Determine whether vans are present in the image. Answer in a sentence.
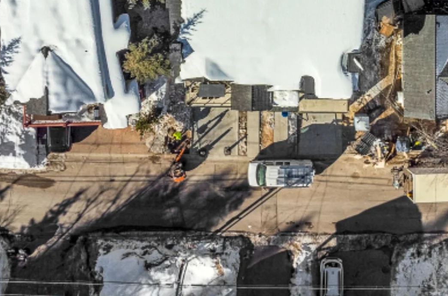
Yes, I can see a van in this picture.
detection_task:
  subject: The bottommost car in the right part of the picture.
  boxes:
[320,257,345,296]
